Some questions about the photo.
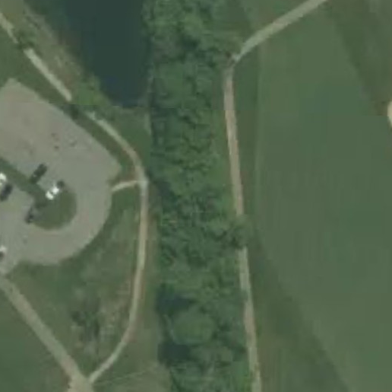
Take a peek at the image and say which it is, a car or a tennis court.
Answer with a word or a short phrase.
car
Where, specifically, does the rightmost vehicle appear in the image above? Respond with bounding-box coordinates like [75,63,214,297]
[45,181,63,201]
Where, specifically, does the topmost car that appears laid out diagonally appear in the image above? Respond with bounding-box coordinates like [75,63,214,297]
[30,164,46,184]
